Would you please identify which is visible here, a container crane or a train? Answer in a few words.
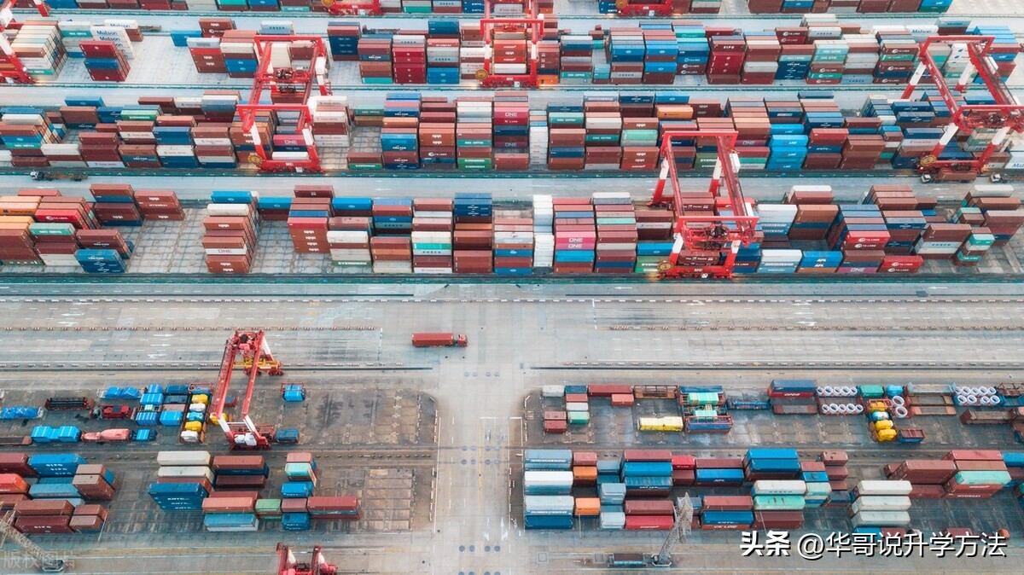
container crane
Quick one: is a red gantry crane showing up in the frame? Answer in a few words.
Yes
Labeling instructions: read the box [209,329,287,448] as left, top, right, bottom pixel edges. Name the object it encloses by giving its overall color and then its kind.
red container crane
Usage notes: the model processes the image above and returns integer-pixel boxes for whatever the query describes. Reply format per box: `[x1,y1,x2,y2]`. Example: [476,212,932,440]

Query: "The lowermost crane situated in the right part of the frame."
[646,134,759,280]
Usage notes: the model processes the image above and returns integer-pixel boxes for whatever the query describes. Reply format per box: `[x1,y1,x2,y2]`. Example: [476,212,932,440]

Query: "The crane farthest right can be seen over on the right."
[894,40,1024,172]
